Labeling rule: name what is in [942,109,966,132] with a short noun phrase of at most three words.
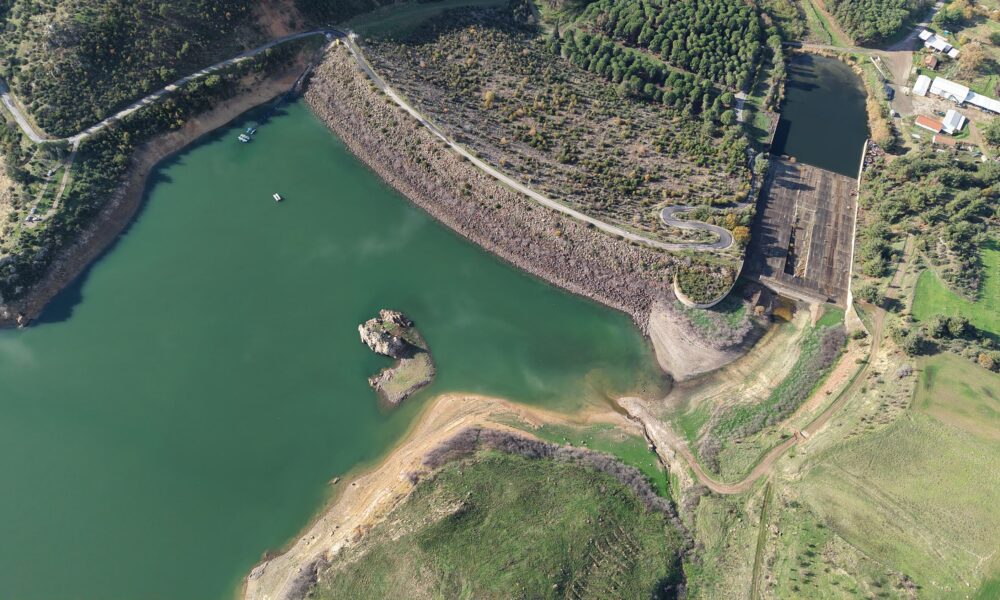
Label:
building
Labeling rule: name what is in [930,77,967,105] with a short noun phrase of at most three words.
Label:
barn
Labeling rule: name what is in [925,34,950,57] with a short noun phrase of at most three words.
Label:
house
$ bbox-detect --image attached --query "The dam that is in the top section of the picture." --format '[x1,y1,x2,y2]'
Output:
[297,26,745,344]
